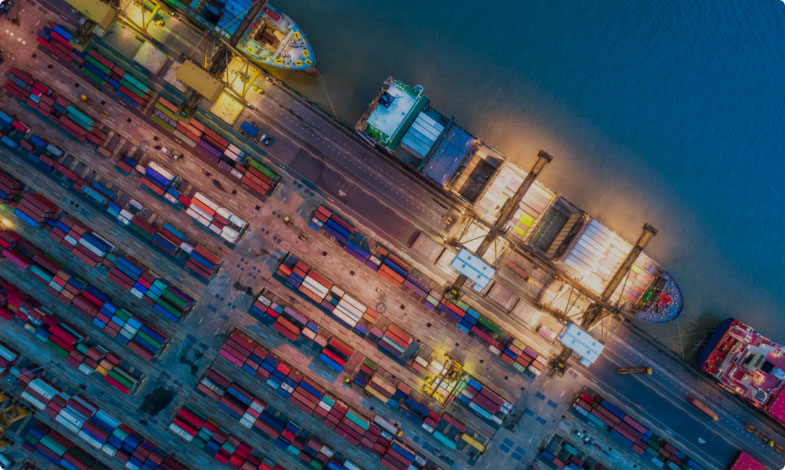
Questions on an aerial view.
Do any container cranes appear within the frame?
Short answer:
Yes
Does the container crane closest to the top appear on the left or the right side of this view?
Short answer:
left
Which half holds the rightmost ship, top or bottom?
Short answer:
bottom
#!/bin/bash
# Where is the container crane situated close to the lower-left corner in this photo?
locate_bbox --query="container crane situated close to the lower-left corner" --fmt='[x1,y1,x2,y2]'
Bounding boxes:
[0,394,44,452]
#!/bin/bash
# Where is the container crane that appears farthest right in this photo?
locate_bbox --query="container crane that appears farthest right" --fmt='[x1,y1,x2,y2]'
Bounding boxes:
[533,219,656,368]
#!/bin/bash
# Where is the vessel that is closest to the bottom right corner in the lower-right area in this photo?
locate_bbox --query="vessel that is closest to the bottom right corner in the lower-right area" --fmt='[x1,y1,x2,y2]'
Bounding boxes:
[697,318,785,425]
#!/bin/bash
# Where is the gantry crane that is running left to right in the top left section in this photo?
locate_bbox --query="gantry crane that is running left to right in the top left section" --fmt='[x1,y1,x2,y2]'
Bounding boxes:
[70,0,182,51]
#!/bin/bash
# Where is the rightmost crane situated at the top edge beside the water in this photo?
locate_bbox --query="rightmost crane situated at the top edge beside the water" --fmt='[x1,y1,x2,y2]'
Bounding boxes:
[181,0,278,120]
